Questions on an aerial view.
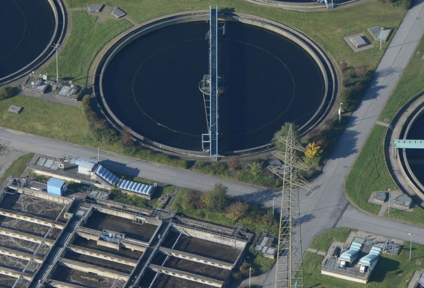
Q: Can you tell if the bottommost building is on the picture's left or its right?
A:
right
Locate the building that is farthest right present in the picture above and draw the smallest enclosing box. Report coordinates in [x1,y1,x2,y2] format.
[320,234,415,285]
